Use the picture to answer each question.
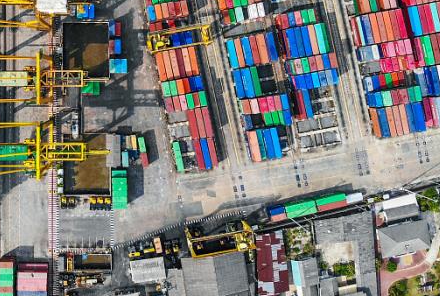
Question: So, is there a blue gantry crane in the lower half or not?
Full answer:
No, no blue gantry crane appears in the lower half.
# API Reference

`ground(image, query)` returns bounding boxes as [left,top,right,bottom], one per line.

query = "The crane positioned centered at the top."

[143,23,214,60]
